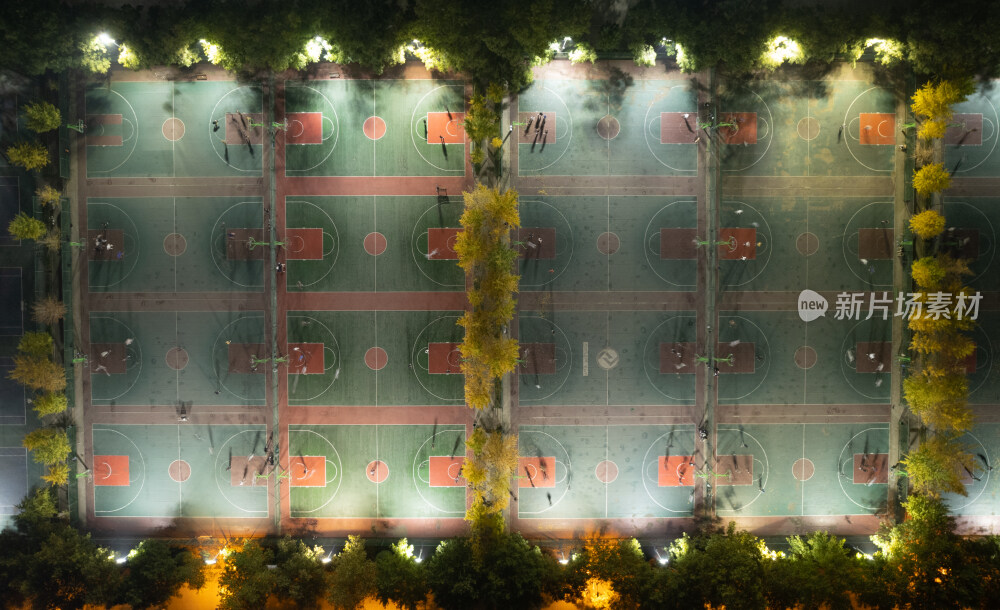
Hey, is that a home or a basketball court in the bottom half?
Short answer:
basketball court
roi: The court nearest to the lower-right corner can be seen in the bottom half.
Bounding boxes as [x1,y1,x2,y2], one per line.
[938,425,1000,518]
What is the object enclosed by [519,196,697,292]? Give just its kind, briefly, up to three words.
basketball court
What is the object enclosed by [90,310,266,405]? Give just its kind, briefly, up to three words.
basketball court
